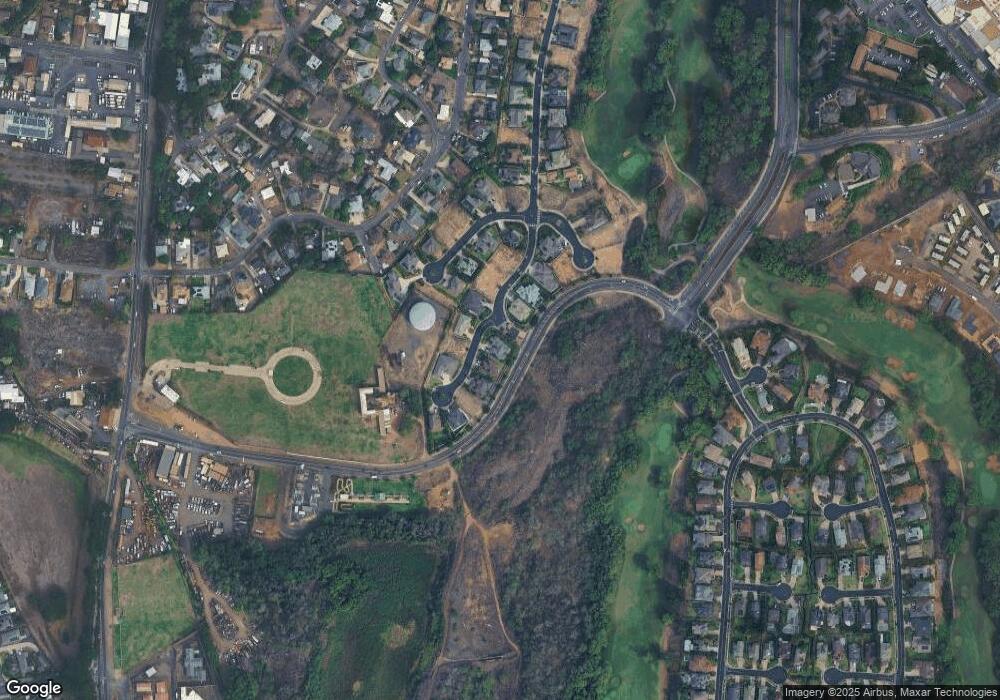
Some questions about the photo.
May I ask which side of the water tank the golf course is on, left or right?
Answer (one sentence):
From the viewer's perspective, the golf course falls to the right of the water tank.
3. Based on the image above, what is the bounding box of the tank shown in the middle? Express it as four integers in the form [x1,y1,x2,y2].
[408,302,441,329]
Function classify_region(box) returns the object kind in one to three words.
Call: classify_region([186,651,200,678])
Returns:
building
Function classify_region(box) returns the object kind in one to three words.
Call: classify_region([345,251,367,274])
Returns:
house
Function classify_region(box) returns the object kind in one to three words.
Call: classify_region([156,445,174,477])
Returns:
building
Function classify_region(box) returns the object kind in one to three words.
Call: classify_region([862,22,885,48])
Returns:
house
